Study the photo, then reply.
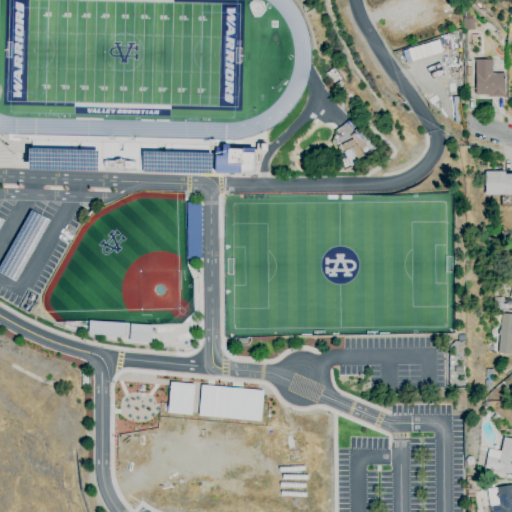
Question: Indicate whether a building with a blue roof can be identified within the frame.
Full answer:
Yes, the frame does contain a building with a blue roof.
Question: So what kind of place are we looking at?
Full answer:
This image shows a sports ground.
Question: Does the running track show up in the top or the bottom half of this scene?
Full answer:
Seen from above, the running track lies in the top half of the view.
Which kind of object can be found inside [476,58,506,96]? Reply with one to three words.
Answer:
house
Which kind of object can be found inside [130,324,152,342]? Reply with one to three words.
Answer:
building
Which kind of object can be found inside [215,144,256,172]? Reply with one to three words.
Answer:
building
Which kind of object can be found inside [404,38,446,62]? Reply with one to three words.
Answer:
shed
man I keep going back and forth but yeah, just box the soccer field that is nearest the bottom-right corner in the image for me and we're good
[226,193,455,337]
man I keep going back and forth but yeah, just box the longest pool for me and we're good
[483,420,496,446]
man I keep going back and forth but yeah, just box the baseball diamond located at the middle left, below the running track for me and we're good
[44,192,194,324]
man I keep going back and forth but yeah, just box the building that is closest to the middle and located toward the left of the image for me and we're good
[188,202,204,259]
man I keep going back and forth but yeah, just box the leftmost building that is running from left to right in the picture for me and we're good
[89,321,130,338]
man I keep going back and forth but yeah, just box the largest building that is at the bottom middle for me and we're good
[200,385,264,422]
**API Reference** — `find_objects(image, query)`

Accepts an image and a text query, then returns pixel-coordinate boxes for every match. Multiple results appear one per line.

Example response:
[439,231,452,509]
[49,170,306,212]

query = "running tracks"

[0,0,312,140]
